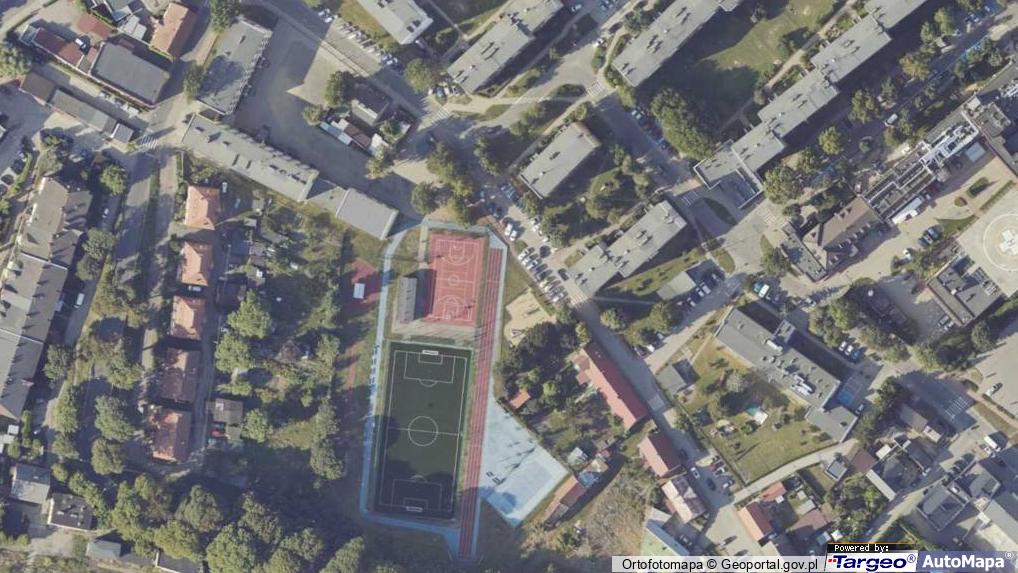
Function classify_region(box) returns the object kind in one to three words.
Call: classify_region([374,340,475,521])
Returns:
soccer field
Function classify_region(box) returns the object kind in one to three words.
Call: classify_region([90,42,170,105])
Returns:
building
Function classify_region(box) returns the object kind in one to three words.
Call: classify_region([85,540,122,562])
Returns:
shed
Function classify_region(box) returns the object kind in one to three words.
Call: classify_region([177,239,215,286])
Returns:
house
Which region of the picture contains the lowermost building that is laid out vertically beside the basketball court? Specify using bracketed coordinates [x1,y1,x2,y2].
[398,277,418,321]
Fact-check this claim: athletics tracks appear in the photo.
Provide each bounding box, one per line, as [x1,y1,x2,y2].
[458,248,502,557]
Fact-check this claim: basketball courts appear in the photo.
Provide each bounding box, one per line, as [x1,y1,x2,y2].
[424,234,485,326]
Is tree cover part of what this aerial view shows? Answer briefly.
Yes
